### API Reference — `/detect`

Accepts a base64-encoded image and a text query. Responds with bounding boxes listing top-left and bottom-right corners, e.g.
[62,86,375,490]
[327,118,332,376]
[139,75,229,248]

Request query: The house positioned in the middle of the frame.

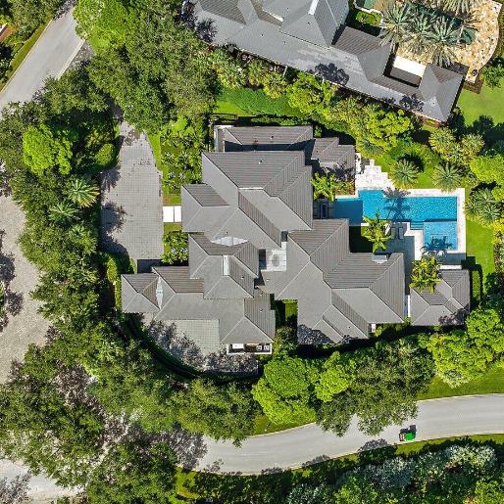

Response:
[121,125,410,345]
